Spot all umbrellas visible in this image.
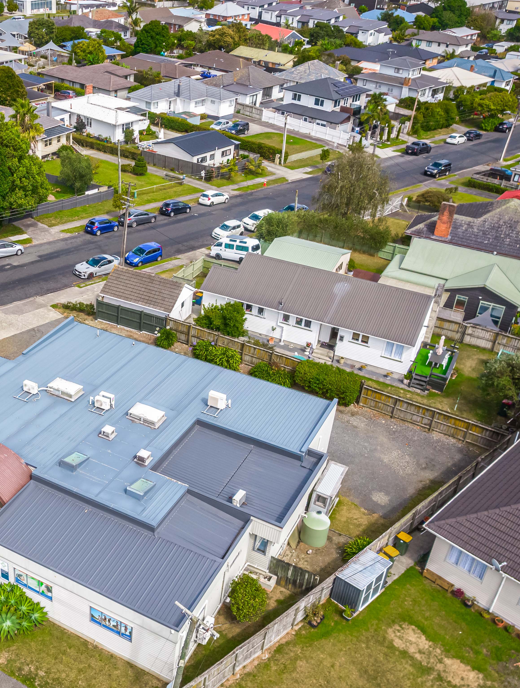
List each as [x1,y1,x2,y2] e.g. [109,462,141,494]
[18,39,37,49]
[437,335,446,355]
